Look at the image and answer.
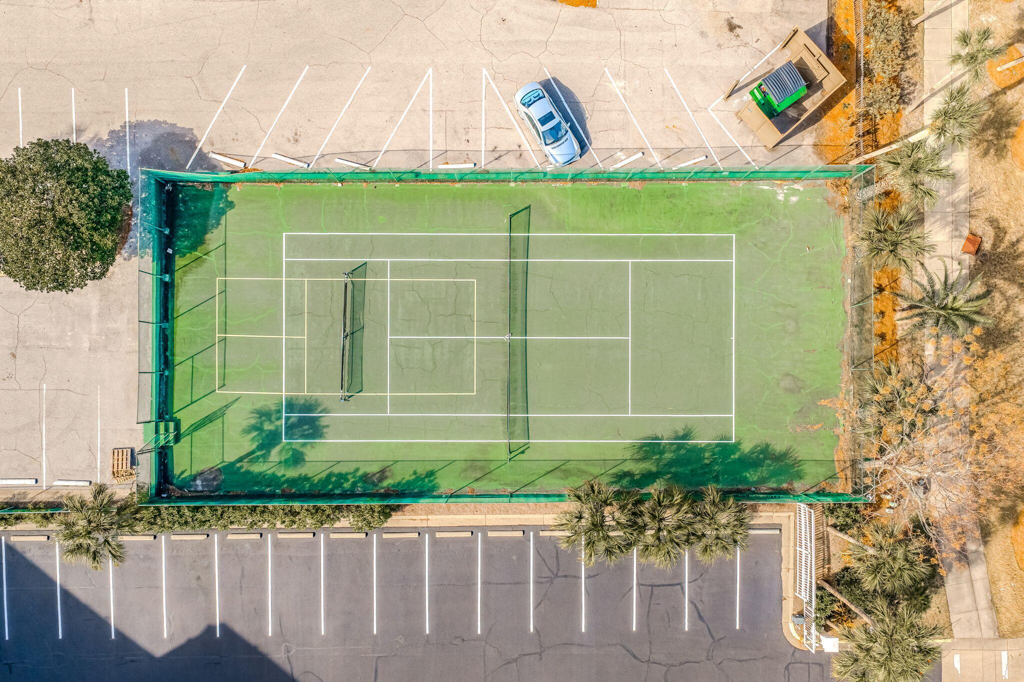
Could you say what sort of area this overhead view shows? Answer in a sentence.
This looks like a sports ground.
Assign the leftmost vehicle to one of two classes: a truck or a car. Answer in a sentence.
It looks like the leftmost vehicle is a car.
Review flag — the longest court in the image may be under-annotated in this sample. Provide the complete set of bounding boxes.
[160,181,856,497]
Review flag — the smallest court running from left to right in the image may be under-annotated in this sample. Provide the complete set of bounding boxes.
[216,278,476,395]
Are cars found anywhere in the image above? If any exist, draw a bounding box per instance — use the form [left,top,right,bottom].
[515,80,580,169]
